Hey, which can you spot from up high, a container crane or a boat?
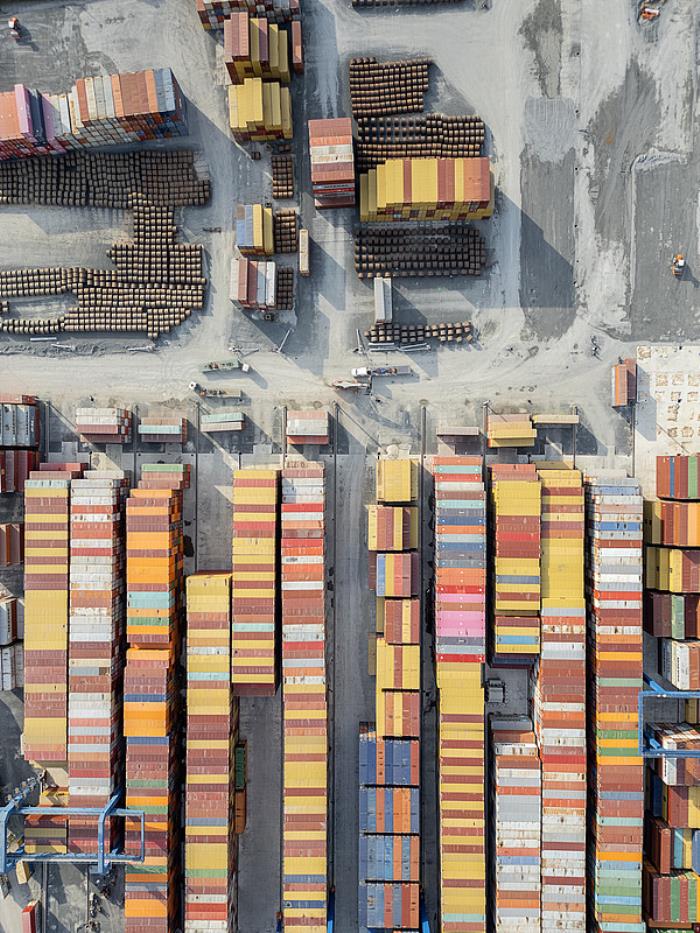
container crane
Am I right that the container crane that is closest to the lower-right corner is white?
No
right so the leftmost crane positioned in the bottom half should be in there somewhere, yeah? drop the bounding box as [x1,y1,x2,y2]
[0,774,145,875]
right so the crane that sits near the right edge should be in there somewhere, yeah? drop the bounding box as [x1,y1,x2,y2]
[638,674,700,766]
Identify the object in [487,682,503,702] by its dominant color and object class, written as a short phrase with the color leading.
gray work vehicle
